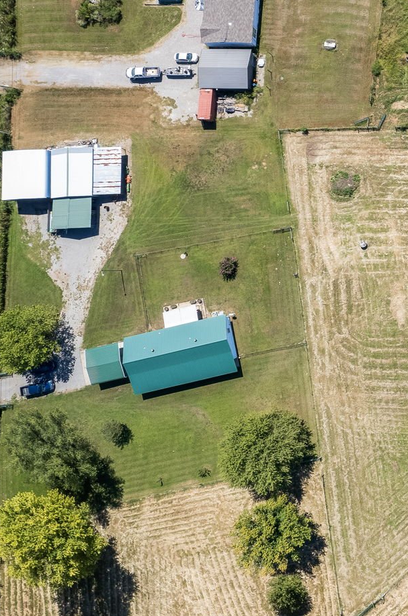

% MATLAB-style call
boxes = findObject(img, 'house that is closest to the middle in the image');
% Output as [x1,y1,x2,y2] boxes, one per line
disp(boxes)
[123,315,241,395]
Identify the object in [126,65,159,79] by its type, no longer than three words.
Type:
vehicle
